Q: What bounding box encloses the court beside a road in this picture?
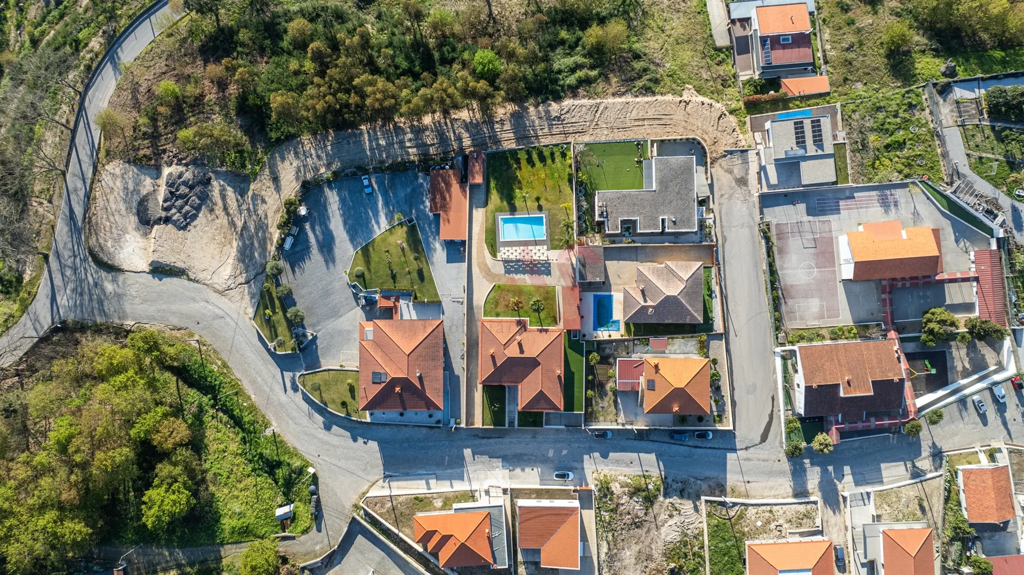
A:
[775,220,840,322]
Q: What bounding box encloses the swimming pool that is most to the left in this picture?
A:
[498,213,547,243]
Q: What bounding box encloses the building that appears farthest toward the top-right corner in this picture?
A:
[976,194,1010,226]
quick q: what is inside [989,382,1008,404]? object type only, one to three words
car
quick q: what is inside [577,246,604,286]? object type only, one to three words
shed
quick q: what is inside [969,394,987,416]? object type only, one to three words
car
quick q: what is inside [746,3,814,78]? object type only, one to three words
house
